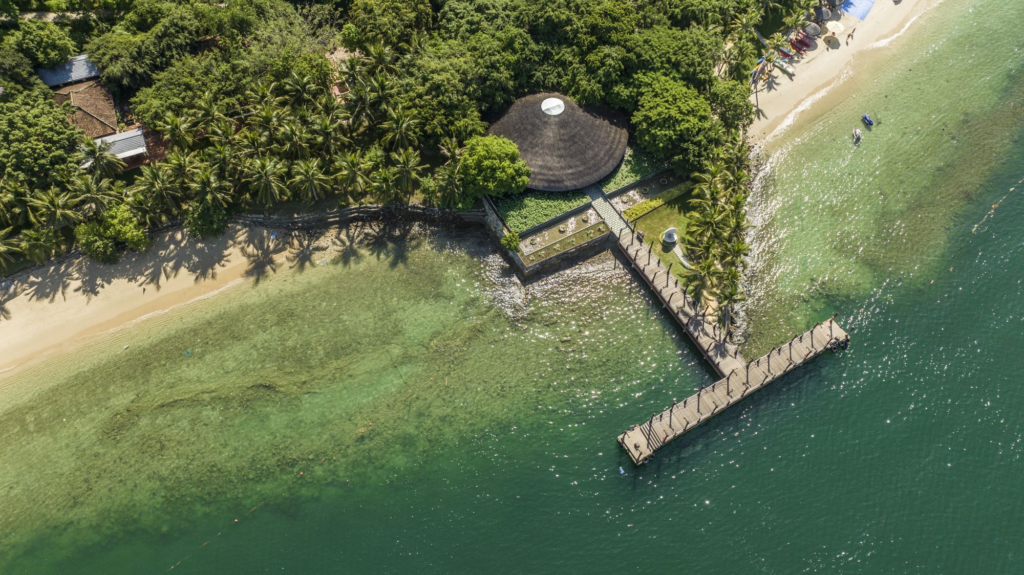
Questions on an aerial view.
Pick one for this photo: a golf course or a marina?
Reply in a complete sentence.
This looks like a marina.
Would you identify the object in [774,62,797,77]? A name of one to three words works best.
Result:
boat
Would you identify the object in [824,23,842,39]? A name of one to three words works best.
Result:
umbrella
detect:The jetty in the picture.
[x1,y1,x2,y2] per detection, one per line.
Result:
[616,231,853,468]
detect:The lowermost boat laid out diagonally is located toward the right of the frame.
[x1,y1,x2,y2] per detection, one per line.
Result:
[859,111,875,126]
